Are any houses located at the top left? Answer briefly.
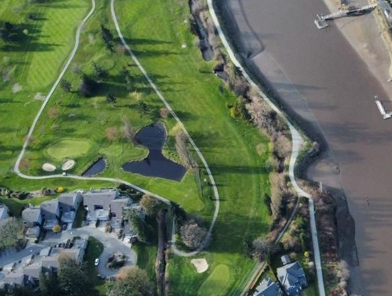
No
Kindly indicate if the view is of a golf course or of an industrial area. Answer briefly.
golf course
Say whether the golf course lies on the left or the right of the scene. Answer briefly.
left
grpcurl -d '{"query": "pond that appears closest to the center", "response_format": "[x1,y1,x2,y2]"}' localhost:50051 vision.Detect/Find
[123,122,187,182]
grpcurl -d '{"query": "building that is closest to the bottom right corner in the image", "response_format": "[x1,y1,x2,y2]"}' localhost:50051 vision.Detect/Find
[280,265,305,291]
